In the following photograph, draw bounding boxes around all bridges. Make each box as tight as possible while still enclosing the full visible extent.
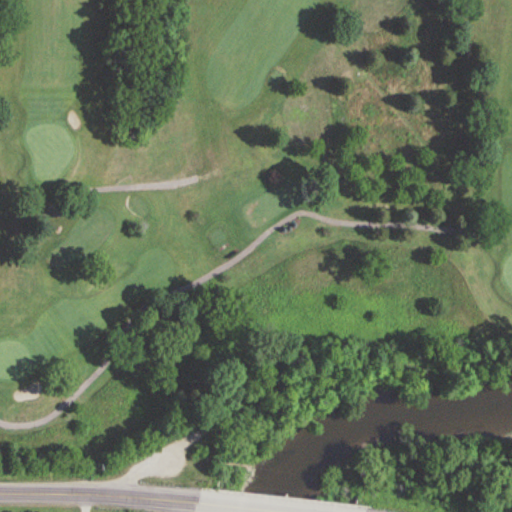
[199,490,368,512]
